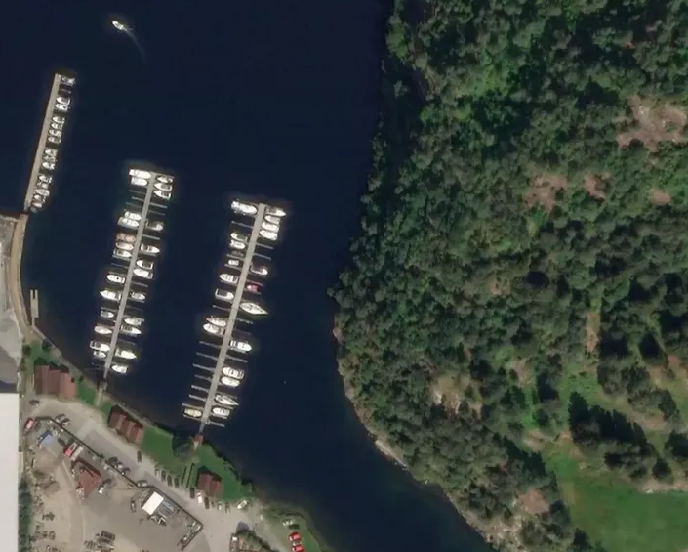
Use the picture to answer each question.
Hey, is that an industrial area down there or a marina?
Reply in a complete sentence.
This image shows a marina.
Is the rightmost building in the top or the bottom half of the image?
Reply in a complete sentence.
Seen from above, the rightmost building lies in the bottom half of the view.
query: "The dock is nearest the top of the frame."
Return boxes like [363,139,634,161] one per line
[23,74,62,211]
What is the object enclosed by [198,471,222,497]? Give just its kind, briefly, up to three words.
building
